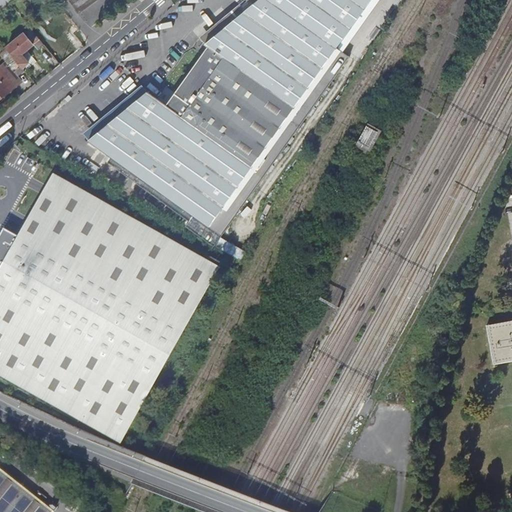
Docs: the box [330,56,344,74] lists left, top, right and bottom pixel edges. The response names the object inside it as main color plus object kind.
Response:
white vehicle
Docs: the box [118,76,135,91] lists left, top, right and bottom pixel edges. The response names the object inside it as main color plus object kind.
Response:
white vehicle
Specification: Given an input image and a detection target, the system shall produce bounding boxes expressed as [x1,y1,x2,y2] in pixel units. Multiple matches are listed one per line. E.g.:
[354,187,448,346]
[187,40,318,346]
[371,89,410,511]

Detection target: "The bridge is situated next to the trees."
[0,394,288,512]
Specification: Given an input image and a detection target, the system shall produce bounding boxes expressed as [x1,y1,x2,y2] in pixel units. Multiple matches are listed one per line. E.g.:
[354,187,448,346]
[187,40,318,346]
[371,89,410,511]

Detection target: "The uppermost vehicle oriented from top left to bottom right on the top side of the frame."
[200,10,214,26]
